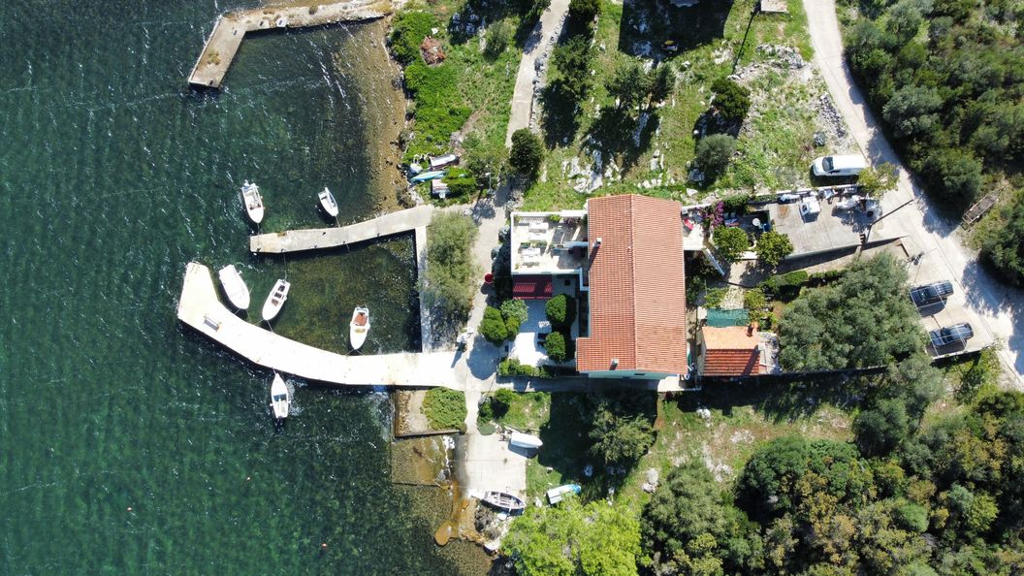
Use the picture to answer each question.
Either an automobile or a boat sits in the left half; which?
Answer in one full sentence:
It is a boat that can be seen in the left half.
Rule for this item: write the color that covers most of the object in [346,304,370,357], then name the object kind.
white boat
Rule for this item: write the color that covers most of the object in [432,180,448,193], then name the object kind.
white boat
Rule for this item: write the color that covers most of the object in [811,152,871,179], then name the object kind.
white vehicle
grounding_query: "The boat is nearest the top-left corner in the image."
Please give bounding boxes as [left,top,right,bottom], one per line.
[242,183,263,231]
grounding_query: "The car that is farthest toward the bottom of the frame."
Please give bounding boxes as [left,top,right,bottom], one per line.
[922,321,977,351]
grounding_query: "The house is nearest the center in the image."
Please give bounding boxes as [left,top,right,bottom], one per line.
[572,190,687,375]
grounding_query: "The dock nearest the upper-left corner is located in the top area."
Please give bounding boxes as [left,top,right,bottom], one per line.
[188,0,390,90]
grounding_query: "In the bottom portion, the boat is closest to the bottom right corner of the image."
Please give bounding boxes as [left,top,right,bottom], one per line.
[547,487,580,507]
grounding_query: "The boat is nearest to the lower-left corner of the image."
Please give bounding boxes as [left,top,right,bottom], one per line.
[270,367,289,423]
